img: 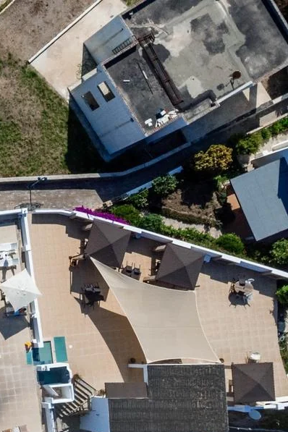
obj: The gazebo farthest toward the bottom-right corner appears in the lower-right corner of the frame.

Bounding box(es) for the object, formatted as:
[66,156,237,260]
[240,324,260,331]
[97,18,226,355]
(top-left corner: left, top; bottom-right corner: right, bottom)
[224,362,276,404]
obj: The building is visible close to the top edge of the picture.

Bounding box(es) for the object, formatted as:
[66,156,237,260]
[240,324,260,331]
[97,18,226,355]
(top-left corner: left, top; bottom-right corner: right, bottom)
[63,0,288,164]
